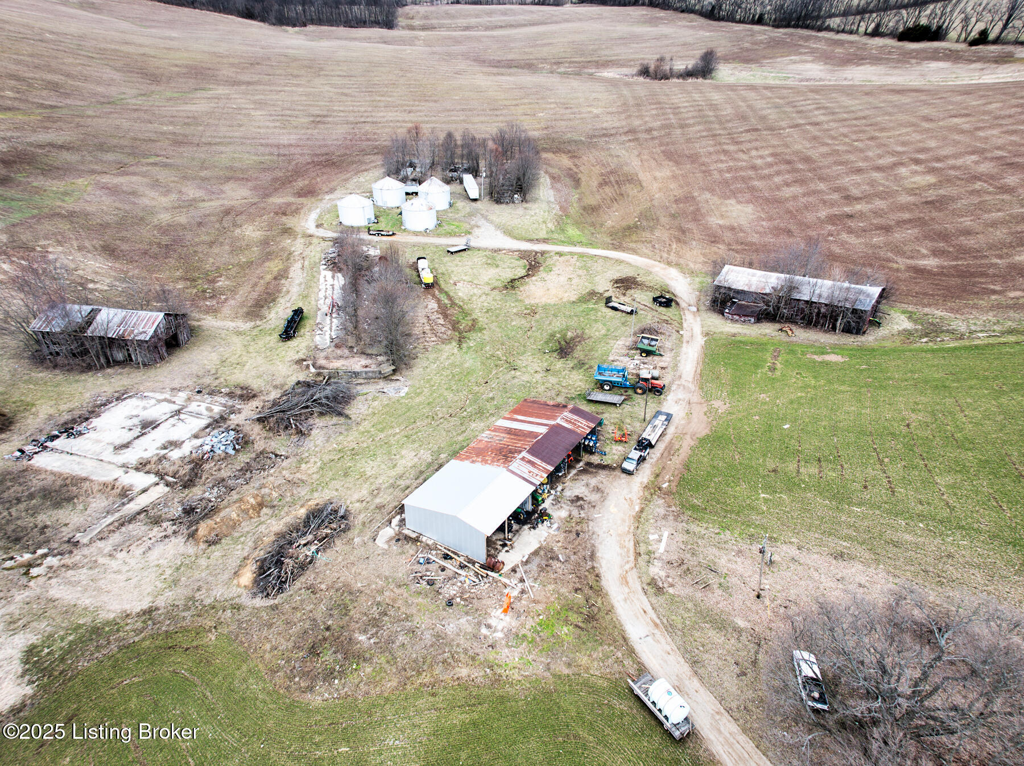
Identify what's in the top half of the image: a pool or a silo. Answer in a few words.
silo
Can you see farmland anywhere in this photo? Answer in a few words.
Yes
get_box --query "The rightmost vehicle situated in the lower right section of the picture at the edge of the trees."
[794,653,828,710]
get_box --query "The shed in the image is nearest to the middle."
[405,396,599,561]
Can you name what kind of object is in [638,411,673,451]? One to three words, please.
trailer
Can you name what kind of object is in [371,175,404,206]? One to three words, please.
silo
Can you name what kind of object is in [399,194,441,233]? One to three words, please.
silo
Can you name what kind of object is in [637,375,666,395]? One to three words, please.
work vehicle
